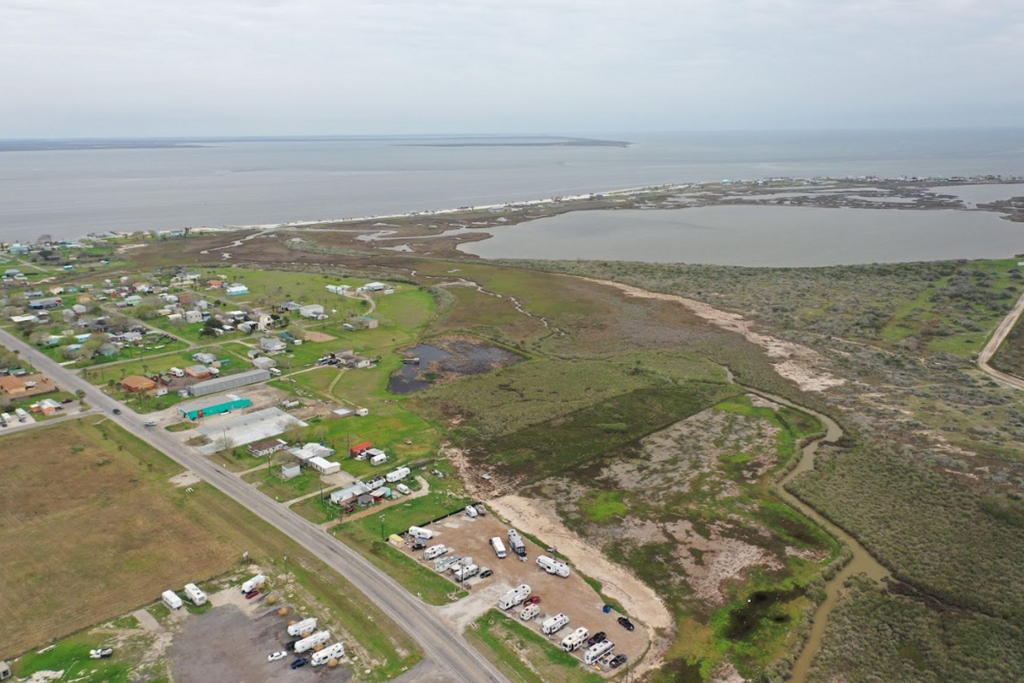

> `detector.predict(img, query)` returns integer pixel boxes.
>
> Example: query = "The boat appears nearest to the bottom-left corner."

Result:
[31,642,59,655]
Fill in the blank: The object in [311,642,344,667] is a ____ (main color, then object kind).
white camper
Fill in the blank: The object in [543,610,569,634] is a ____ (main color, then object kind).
white vehicle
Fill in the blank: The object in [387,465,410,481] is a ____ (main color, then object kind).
white vehicle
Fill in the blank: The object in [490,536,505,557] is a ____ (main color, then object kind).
white camper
